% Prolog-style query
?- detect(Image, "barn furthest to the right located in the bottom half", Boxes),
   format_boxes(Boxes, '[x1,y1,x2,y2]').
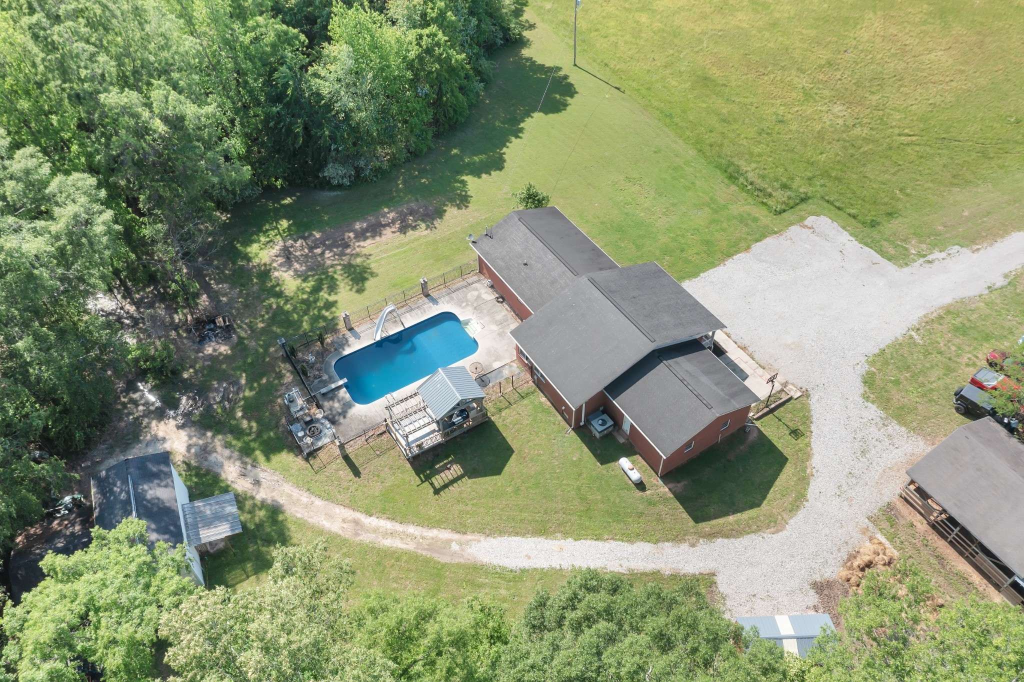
[896,418,1024,618]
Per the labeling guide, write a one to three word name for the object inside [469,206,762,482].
house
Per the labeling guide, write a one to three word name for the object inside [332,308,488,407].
swimming pool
